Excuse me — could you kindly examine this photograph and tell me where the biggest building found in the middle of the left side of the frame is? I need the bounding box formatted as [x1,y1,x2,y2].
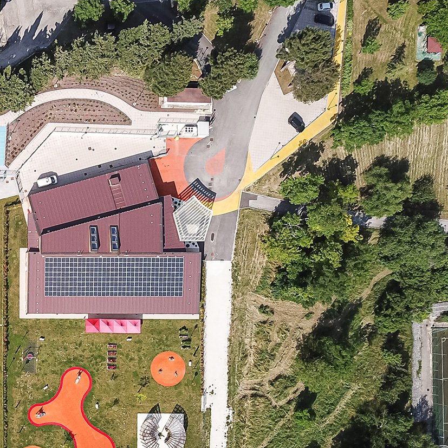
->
[26,163,208,314]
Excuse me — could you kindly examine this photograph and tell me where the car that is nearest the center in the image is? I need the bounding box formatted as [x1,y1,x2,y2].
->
[291,111,307,132]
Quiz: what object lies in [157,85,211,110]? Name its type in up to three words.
shed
